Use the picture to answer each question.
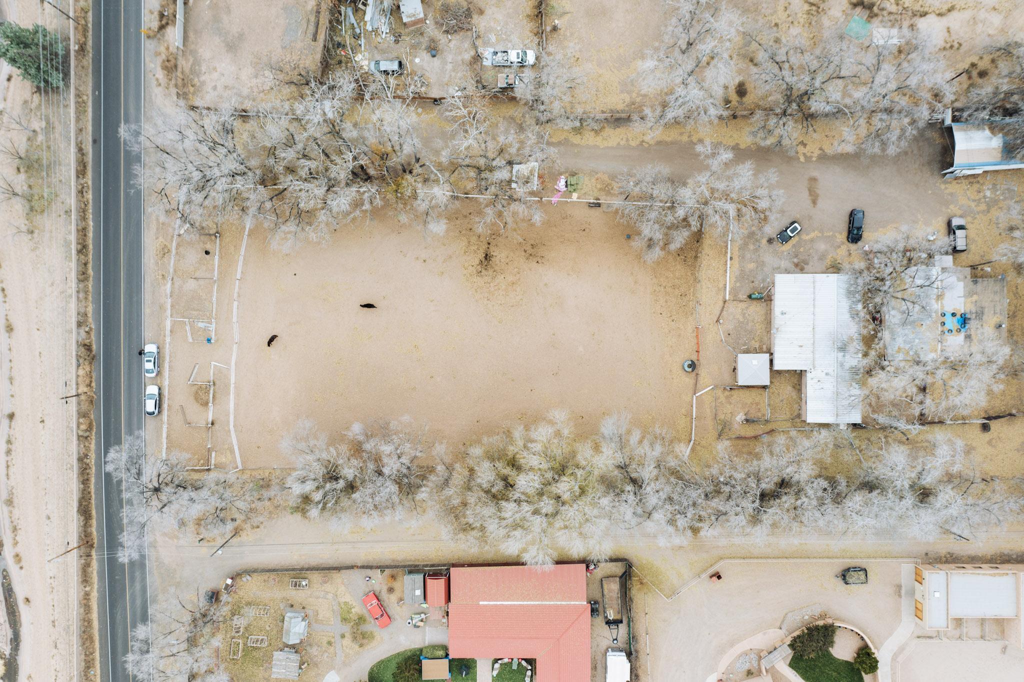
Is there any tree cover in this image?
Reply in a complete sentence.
Yes, tree cover can be seen from above here.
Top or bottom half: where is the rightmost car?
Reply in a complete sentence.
It is in the top half that the rightmost car appears.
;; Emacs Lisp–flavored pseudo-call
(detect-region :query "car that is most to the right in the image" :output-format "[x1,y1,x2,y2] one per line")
[946,216,968,253]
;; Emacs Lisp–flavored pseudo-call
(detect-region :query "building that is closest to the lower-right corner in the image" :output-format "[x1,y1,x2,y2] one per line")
[914,564,1024,650]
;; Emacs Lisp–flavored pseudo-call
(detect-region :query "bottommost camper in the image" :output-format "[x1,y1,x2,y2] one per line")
[605,645,630,682]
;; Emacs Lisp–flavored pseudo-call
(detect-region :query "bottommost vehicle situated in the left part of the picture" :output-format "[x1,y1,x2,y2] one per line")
[362,589,391,631]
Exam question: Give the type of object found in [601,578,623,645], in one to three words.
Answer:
trailer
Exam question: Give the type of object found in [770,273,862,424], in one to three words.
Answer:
barn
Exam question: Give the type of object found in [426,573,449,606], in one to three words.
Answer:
shed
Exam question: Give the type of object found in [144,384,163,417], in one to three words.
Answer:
car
